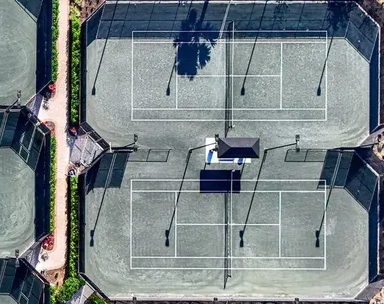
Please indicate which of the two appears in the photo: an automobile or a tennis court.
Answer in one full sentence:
There is a tennis court in the scene.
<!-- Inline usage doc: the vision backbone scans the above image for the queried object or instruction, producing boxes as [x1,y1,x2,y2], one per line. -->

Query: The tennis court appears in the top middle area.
[87,3,378,151]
